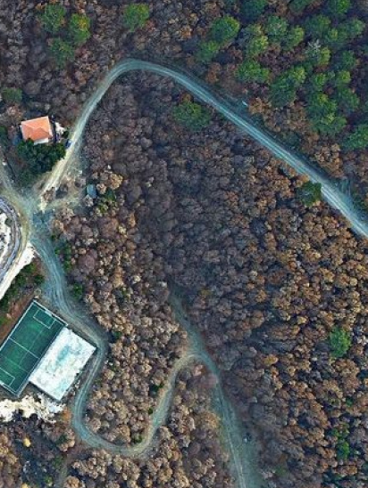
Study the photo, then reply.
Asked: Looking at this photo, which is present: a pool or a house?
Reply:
house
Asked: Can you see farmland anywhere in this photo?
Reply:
No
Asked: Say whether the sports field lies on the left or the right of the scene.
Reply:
left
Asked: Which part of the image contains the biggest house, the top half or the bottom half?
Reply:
top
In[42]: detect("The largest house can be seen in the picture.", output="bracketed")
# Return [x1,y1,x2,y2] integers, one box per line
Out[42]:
[21,116,54,144]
